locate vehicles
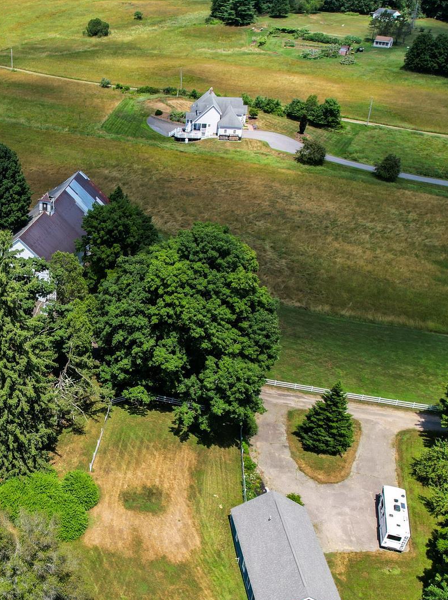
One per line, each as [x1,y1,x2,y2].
[355,47,363,53]
[372,488,407,557]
